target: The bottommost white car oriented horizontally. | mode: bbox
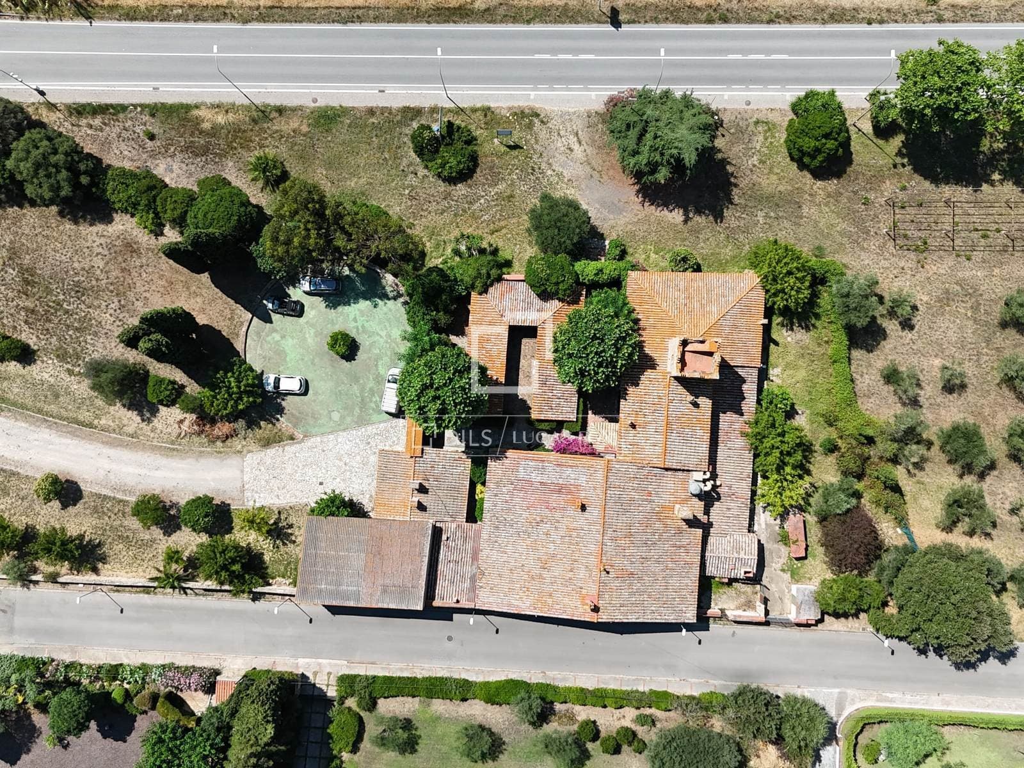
[264,373,306,394]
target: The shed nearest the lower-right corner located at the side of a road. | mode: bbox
[787,580,820,623]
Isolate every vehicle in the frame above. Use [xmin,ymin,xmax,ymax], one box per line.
[379,368,402,415]
[264,373,306,394]
[266,295,305,319]
[300,276,340,297]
